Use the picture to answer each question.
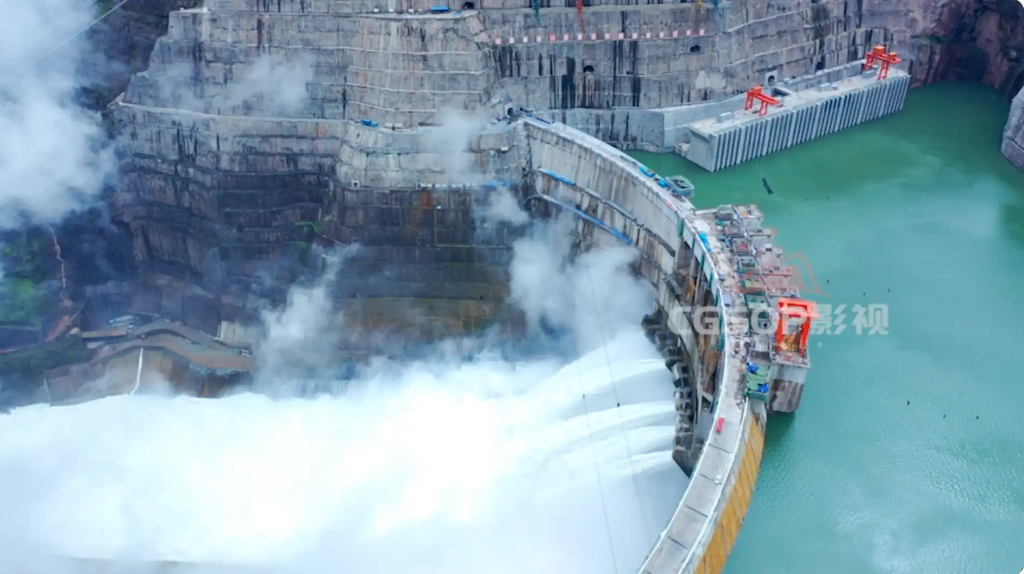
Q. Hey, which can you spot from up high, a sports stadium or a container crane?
container crane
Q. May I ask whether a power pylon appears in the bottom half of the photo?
No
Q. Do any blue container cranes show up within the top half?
No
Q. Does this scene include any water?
Yes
